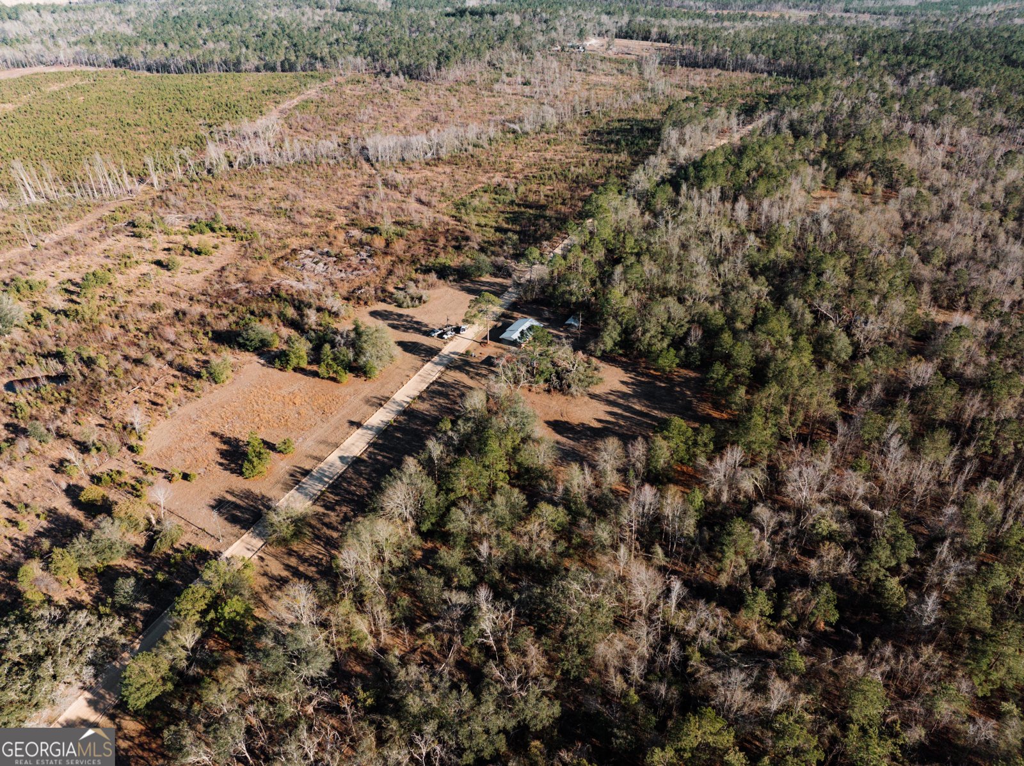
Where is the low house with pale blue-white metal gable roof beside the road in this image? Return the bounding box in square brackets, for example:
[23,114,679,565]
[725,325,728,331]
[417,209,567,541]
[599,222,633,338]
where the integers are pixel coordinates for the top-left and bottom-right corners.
[497,318,543,351]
